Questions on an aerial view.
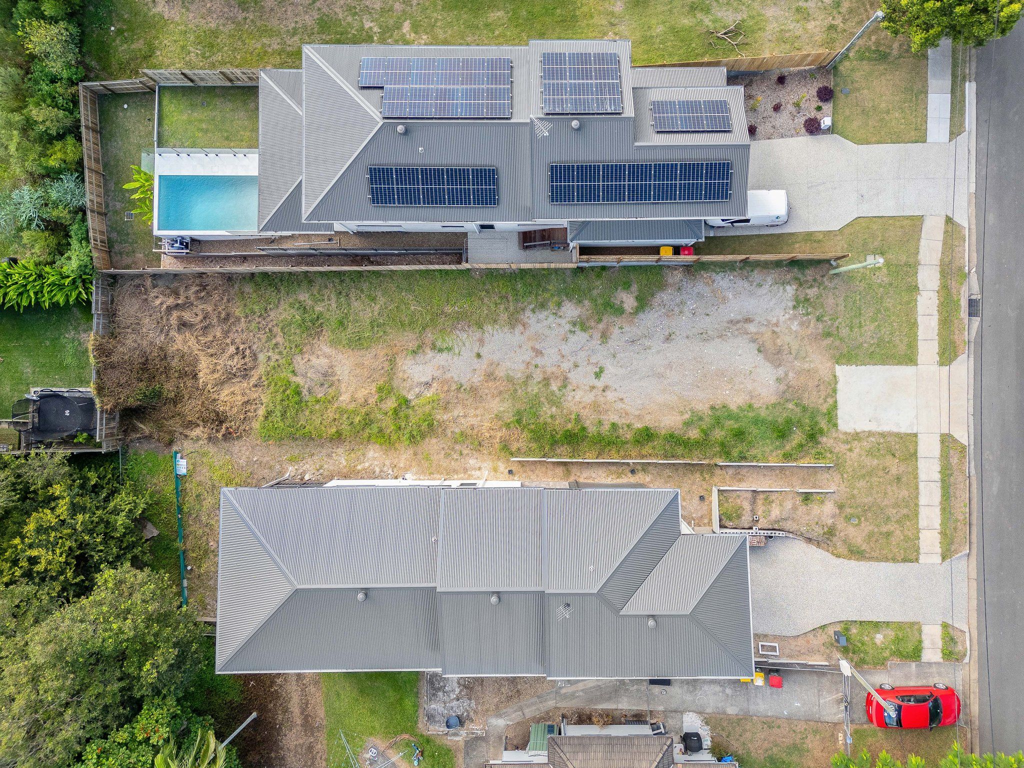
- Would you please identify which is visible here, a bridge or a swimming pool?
swimming pool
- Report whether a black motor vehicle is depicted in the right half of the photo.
No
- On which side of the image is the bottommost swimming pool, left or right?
left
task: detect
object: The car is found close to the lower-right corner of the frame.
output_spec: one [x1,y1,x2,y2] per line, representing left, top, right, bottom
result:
[864,683,958,734]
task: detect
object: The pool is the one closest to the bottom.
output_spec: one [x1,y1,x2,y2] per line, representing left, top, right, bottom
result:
[154,154,259,237]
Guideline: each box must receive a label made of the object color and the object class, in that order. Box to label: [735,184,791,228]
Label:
white van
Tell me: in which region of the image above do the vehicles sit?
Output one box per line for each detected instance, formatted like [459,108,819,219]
[864,683,958,734]
[735,184,791,228]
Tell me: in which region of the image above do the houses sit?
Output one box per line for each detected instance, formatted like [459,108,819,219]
[480,724,740,768]
[213,466,757,681]
[255,37,752,252]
